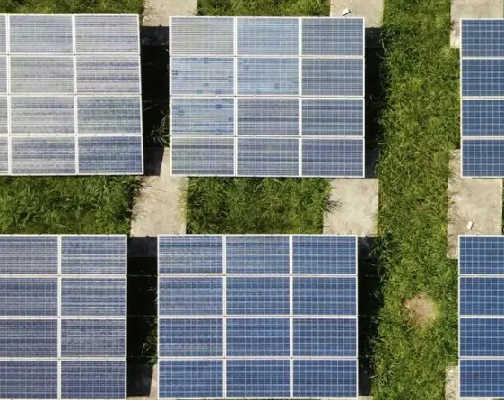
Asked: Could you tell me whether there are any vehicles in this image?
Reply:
No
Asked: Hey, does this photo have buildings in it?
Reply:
No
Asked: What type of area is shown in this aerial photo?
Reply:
solar farm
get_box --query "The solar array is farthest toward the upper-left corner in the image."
[0,14,156,174]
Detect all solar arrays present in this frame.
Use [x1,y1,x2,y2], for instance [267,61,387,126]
[461,20,504,178]
[170,17,371,176]
[0,236,142,400]
[459,236,504,400]
[0,14,156,174]
[158,236,364,399]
